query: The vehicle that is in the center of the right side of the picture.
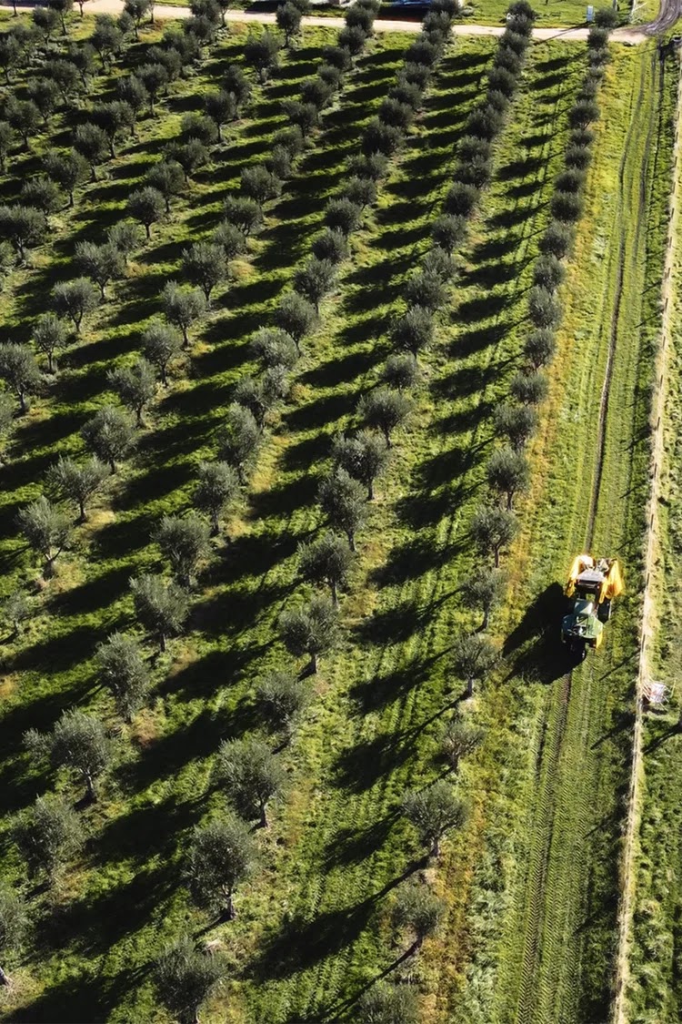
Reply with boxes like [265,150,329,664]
[559,553,624,664]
